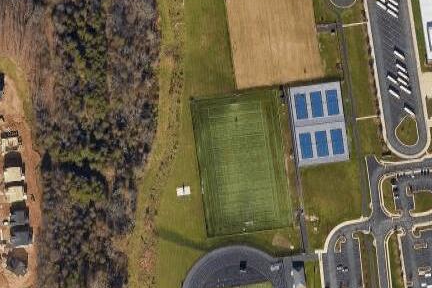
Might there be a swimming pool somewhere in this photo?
No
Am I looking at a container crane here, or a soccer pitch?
soccer pitch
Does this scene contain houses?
Yes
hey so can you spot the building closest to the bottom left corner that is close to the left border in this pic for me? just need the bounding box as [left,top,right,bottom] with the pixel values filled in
[6,249,29,273]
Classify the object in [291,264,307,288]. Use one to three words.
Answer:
building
